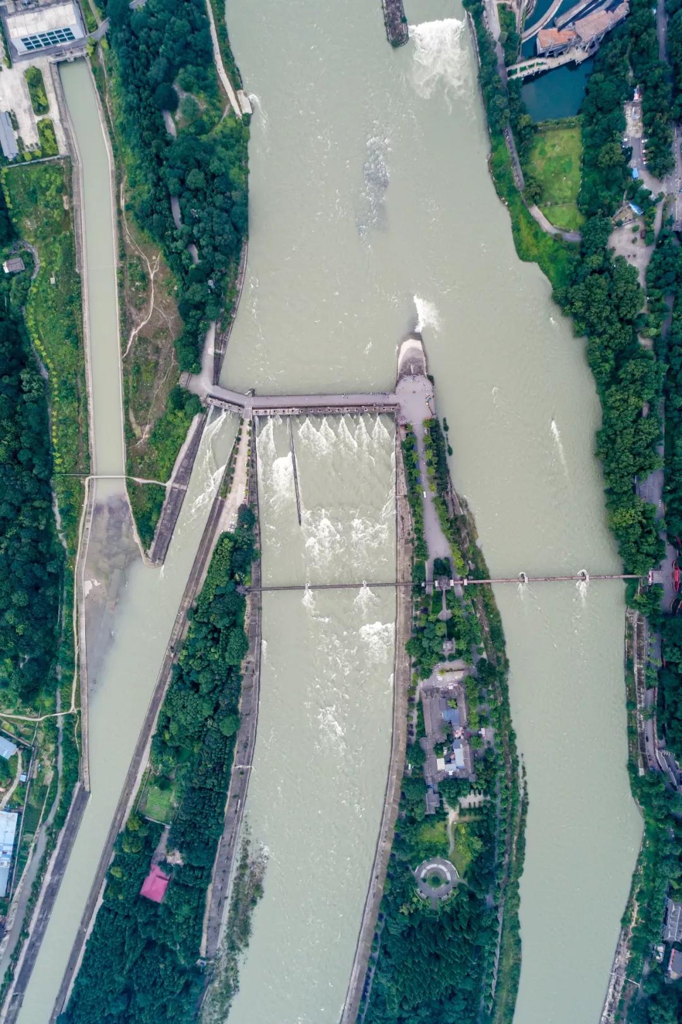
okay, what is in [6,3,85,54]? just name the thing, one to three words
building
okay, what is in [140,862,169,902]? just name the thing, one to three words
house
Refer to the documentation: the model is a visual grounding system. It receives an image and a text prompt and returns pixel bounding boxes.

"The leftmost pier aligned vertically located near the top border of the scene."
[382,0,408,49]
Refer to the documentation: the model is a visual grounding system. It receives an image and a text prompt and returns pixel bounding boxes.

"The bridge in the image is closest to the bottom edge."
[240,569,653,593]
